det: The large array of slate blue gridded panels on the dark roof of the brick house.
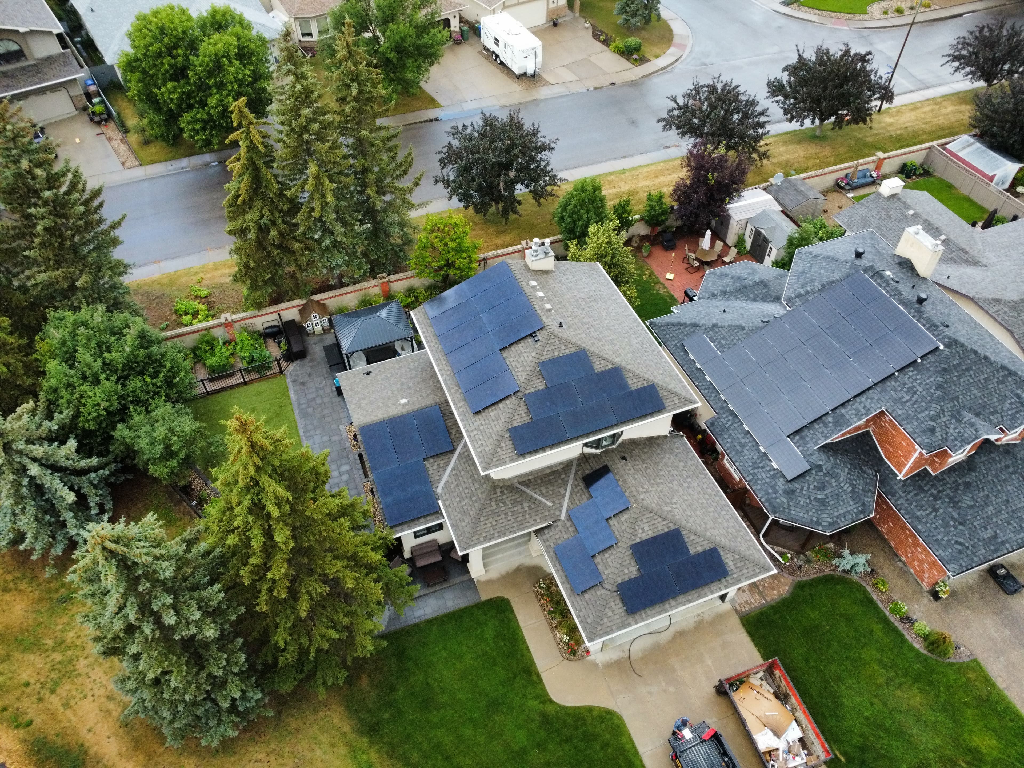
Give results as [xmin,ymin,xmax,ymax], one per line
[684,270,939,480]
